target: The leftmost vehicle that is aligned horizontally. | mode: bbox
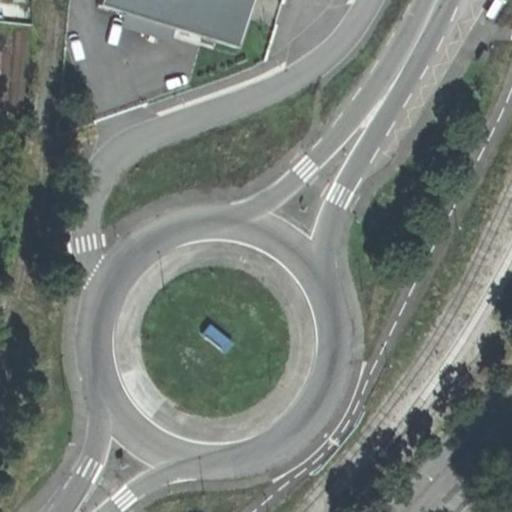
[164,75,188,90]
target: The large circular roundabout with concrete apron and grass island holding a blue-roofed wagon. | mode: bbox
[78,203,354,480]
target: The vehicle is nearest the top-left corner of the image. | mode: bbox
[68,32,84,63]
